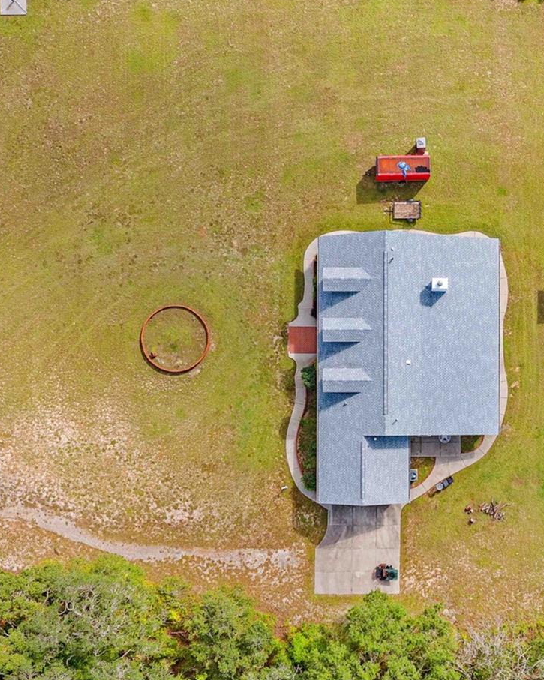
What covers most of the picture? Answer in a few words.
grass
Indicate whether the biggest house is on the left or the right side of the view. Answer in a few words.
right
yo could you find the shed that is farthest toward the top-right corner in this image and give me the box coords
[379,155,430,183]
